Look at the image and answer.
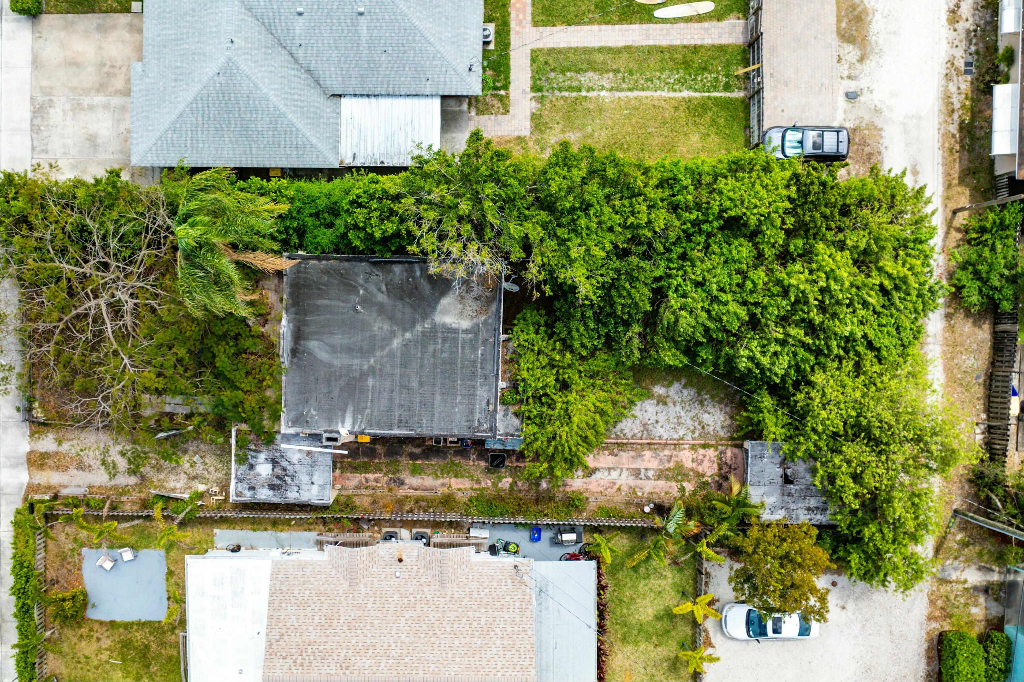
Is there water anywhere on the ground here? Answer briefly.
No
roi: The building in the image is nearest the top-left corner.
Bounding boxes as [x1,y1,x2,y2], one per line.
[127,0,485,170]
